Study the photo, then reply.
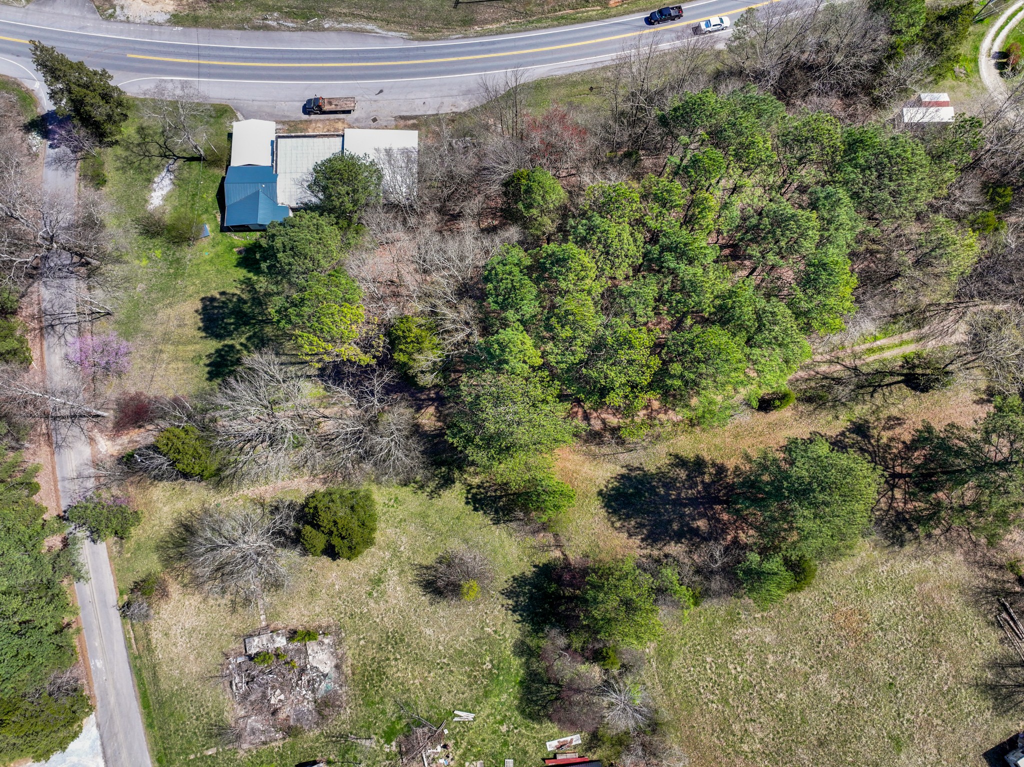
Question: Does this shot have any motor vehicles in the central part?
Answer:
No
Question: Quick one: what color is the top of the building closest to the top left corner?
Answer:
white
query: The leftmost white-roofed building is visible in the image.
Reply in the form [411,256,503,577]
[231,119,279,167]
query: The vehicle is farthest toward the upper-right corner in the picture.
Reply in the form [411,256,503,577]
[699,17,734,35]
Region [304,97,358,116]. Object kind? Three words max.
vehicle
